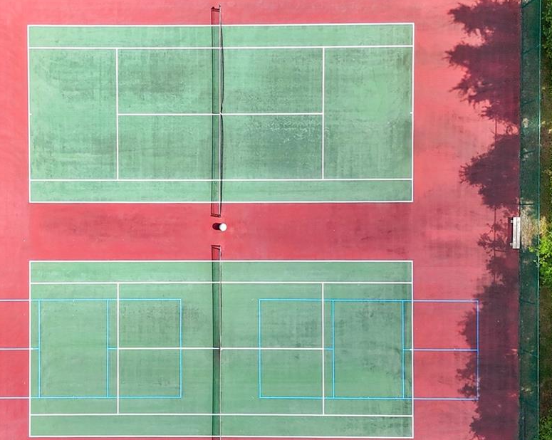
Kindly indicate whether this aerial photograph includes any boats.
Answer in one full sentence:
No, this view has no boat in it.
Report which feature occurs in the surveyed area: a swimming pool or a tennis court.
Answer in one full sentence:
It is a tennis court that can be seen here.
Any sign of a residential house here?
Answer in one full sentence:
No, the scene contains no residential house.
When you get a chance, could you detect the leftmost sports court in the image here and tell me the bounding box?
[0,301,181,399]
